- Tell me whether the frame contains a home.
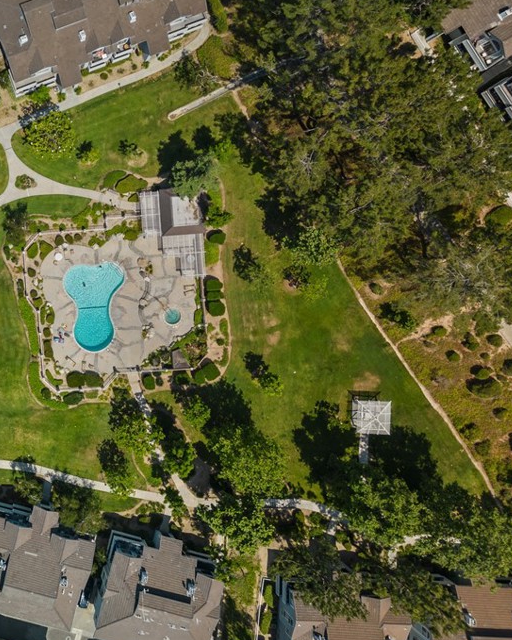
Yes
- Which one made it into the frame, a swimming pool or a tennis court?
swimming pool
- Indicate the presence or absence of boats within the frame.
No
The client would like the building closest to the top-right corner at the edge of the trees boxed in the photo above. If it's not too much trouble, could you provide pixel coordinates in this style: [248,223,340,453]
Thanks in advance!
[430,0,512,77]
